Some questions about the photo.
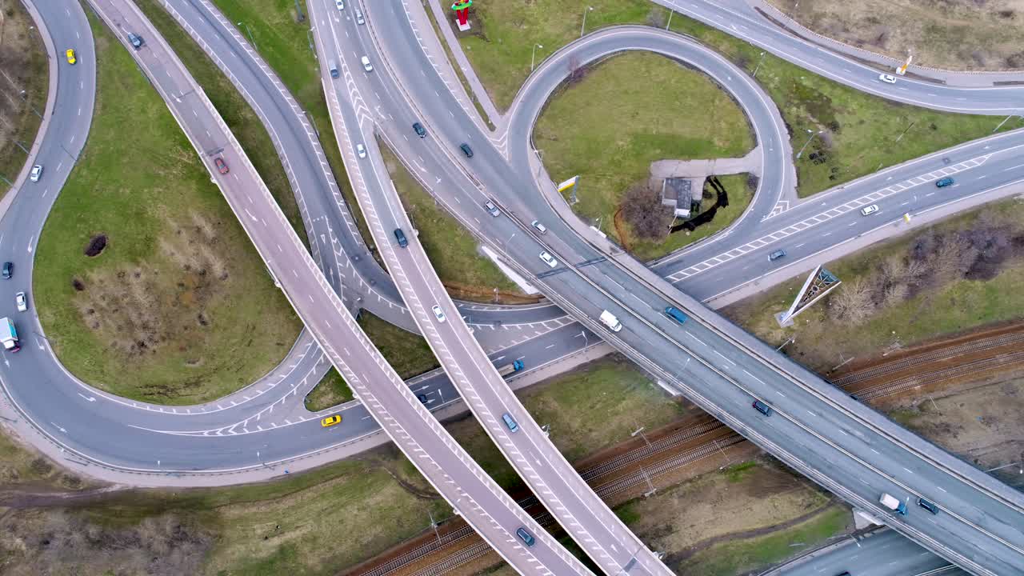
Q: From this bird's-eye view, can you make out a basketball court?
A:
No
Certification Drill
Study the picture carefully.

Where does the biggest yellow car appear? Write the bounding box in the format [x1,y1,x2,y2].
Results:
[320,414,342,427]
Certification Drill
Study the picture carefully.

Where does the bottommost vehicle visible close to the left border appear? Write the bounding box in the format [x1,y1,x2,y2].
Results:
[0,314,22,351]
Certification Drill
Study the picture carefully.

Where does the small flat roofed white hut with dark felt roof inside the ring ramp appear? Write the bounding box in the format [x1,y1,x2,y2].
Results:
[661,178,691,221]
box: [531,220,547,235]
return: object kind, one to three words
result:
car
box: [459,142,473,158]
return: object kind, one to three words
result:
car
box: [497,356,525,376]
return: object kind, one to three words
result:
vehicle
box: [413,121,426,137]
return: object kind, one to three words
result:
vehicle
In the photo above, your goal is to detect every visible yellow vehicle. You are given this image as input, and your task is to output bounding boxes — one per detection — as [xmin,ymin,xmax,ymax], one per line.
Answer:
[66,49,76,63]
[320,414,342,427]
